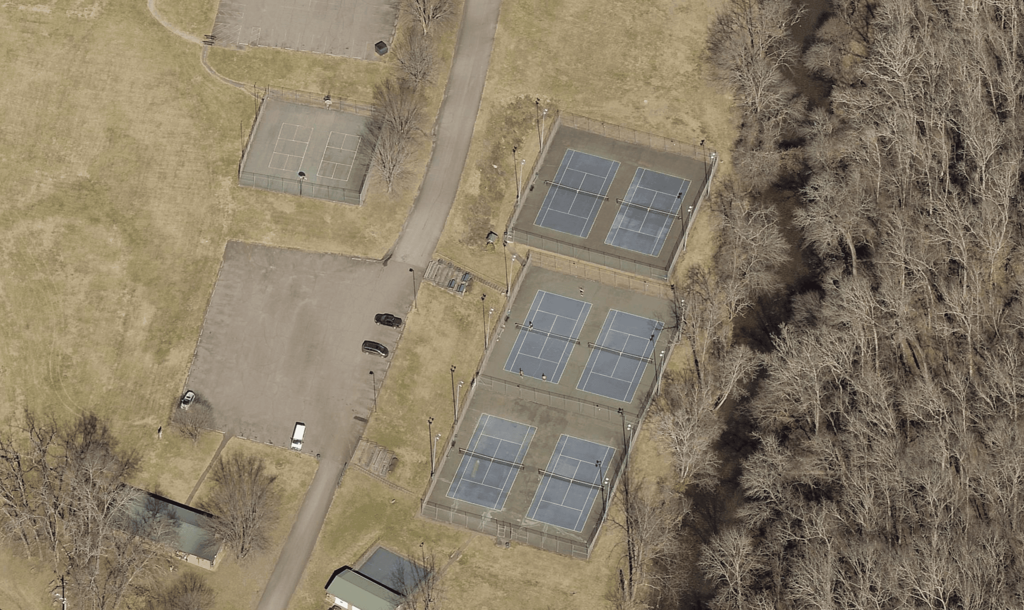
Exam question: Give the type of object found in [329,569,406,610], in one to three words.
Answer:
building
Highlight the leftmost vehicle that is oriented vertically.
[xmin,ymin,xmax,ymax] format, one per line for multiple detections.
[291,425,306,452]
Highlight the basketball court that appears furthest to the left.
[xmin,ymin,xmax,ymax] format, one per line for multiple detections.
[238,98,389,206]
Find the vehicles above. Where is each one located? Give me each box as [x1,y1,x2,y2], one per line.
[372,315,403,330]
[291,425,306,452]
[179,392,196,410]
[362,343,389,359]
